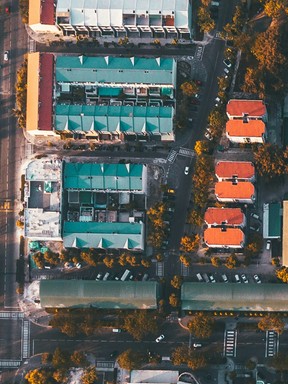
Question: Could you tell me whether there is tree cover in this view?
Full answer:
Yes, there's tree cover in this view.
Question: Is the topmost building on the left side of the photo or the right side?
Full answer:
It is on the left.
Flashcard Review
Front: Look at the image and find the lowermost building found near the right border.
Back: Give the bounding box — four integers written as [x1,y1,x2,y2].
[180,282,288,313]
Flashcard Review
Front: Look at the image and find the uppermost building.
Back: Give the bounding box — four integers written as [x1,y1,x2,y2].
[29,0,60,32]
